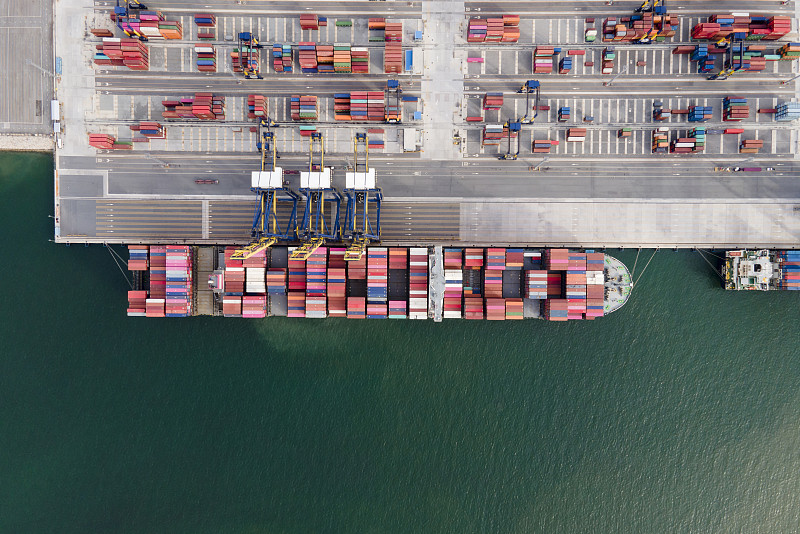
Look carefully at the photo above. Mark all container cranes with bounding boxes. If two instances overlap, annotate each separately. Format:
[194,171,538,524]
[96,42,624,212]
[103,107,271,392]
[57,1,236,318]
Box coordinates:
[230,129,302,258]
[633,0,664,44]
[255,116,279,158]
[498,118,522,160]
[116,0,148,43]
[709,32,745,81]
[341,130,387,259]
[288,130,345,259]
[384,80,402,124]
[238,33,263,80]
[517,80,541,125]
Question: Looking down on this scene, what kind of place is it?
port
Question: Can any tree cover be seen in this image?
No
